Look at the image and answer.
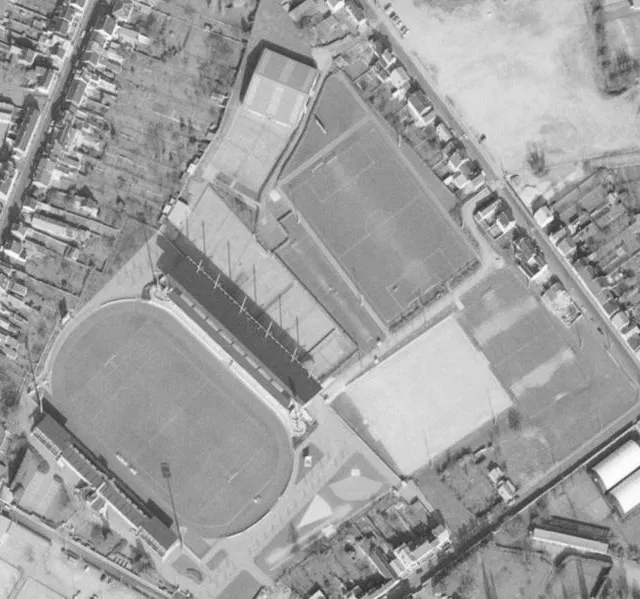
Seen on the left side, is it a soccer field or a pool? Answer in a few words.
soccer field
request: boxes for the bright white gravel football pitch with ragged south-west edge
[345,315,512,475]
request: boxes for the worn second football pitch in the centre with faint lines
[288,126,474,326]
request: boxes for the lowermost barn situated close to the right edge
[531,521,610,554]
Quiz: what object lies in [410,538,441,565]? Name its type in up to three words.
house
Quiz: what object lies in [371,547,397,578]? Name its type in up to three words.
house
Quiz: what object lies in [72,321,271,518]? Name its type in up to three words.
soccer field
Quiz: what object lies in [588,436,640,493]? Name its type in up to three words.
shed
